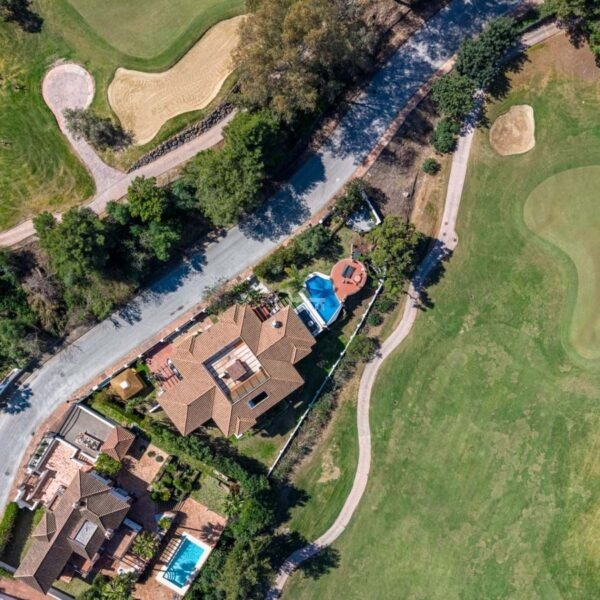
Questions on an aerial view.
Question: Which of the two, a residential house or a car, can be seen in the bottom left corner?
residential house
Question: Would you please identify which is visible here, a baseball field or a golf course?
golf course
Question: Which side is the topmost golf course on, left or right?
left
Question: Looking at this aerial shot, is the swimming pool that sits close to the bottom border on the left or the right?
left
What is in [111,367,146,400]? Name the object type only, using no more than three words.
building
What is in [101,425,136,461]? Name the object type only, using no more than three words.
shed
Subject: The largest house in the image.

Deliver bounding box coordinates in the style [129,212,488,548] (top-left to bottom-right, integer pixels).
[148,302,316,438]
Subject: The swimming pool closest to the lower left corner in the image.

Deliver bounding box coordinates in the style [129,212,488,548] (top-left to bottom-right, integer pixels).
[157,532,210,596]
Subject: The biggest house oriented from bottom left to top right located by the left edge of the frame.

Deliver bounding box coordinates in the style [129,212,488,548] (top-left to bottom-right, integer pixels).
[13,466,133,596]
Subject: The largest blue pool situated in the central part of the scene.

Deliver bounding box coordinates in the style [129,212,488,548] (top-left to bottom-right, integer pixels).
[299,272,343,327]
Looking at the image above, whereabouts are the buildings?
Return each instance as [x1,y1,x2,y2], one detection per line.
[101,425,136,461]
[148,302,316,438]
[111,367,146,400]
[13,466,133,596]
